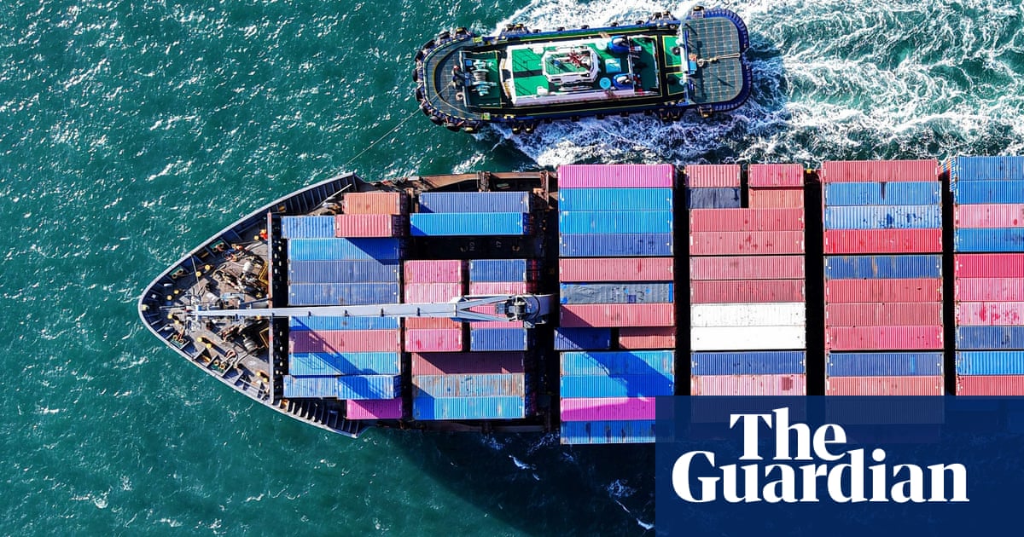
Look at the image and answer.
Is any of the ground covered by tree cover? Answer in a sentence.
No, the scene doesn't show any tree cover.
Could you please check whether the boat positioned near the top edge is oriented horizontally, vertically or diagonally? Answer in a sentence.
The boat positioned near the top edge is oriented horizontally.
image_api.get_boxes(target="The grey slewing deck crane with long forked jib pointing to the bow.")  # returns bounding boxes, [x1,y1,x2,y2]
[173,291,562,334]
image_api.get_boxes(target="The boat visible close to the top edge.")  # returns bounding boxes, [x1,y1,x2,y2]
[416,6,750,131]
